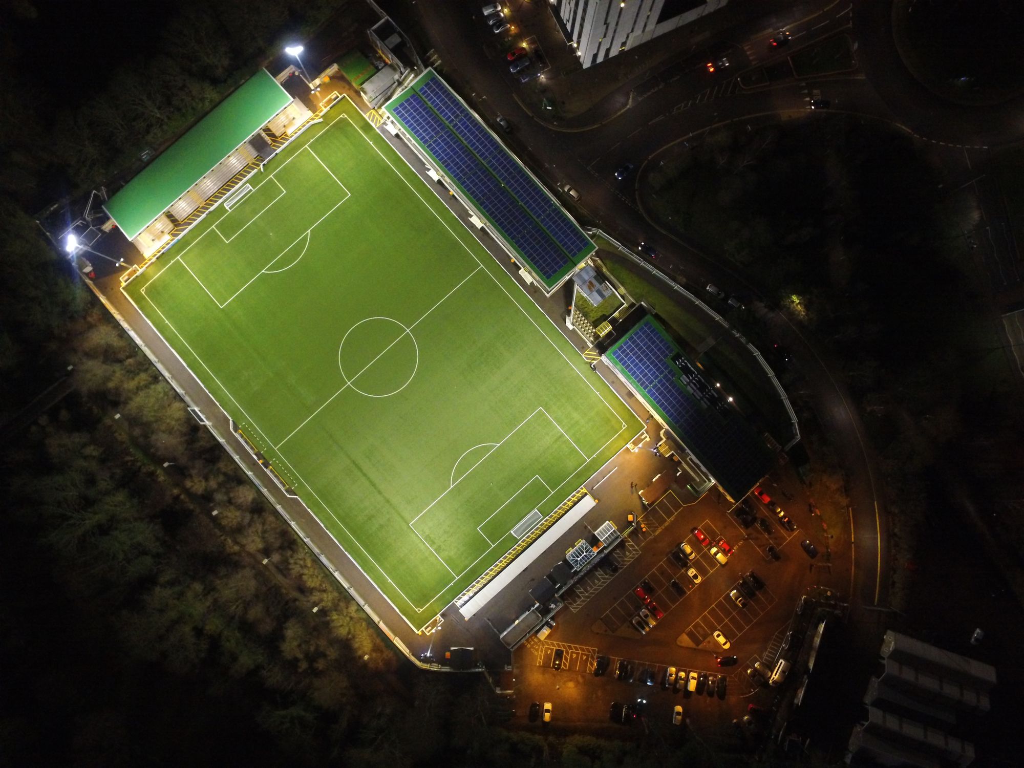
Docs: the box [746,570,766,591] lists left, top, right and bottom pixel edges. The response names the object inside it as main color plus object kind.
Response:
black car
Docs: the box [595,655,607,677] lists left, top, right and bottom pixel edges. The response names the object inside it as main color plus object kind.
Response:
black vehicle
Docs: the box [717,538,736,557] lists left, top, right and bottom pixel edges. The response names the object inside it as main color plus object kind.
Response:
red car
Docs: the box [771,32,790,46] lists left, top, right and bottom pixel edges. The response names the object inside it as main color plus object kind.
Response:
black car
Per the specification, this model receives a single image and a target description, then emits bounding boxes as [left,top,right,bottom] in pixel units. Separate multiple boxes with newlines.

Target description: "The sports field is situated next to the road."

[123,97,645,631]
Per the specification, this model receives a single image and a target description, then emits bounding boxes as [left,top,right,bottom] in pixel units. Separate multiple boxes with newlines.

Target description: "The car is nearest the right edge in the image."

[969,628,981,645]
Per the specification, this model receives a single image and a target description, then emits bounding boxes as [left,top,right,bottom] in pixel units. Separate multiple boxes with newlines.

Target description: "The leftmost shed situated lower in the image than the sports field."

[450,646,475,669]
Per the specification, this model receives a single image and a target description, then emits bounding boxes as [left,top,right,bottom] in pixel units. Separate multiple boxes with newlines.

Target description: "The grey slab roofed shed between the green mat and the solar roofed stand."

[361,65,400,107]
